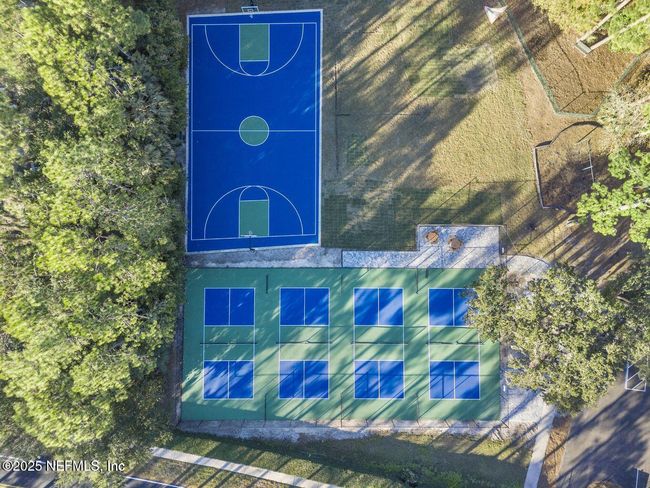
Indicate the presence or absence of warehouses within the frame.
No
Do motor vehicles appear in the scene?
No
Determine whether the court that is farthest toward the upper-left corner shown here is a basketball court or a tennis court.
basketball court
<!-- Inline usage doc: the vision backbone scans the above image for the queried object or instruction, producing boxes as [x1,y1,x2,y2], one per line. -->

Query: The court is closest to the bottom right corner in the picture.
[429,288,480,399]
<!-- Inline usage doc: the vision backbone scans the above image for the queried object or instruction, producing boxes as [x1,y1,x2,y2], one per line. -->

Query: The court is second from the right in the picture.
[354,288,404,399]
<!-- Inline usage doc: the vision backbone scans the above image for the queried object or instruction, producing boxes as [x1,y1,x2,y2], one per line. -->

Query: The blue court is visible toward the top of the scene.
[185,9,323,252]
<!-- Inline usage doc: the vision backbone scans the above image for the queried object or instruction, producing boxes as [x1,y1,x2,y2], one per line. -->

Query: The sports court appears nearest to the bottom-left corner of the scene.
[204,288,255,399]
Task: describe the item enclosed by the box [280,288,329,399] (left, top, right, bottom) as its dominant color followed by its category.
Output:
blue sports court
